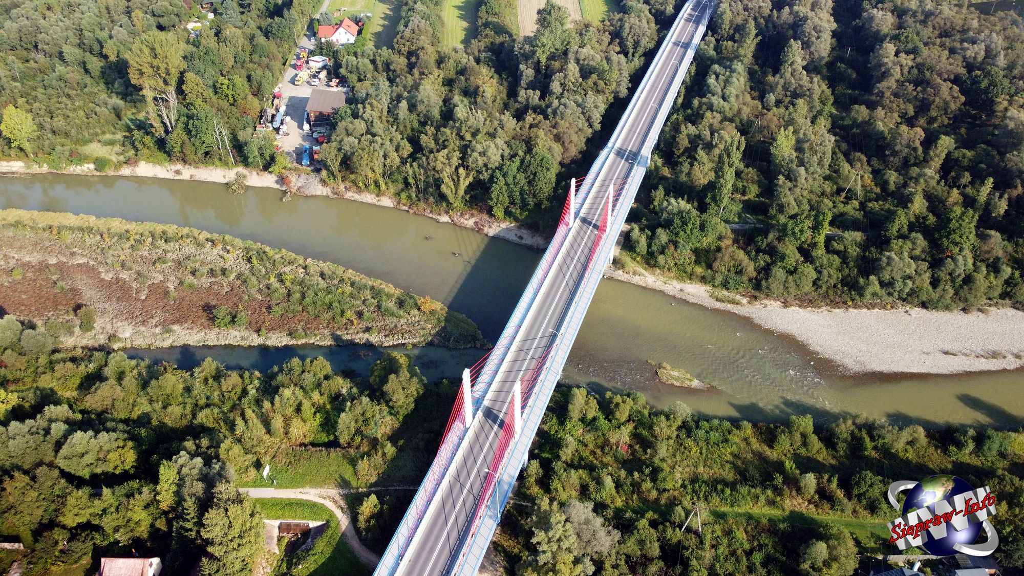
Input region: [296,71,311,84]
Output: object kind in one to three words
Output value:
vehicle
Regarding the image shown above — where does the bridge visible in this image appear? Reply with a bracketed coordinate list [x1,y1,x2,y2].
[369,0,718,576]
